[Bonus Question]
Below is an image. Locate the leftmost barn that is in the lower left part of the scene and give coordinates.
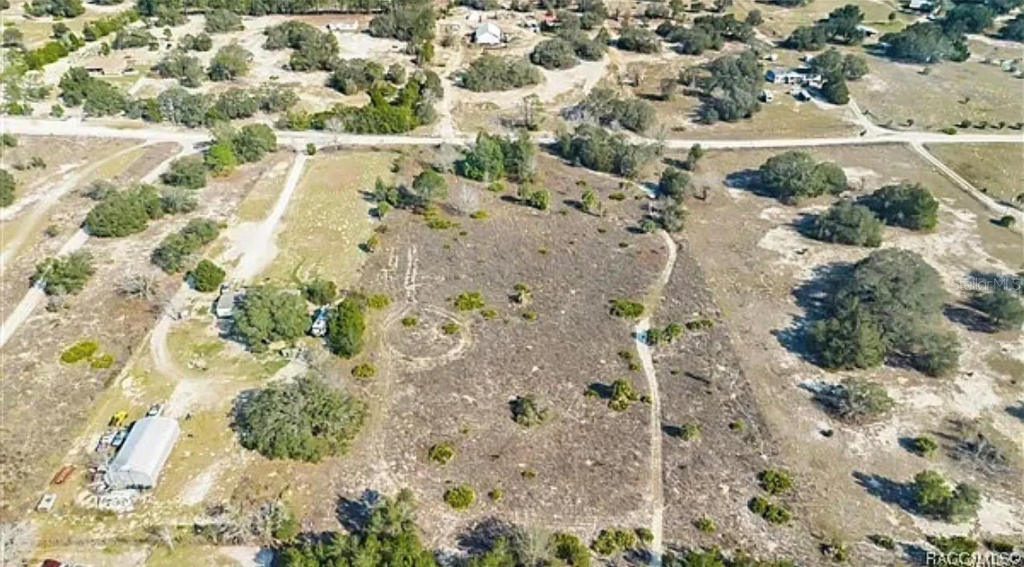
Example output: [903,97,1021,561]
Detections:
[102,421,183,489]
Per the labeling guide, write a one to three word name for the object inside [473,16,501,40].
building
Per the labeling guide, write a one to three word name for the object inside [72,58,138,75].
house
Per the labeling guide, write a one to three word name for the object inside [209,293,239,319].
shed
